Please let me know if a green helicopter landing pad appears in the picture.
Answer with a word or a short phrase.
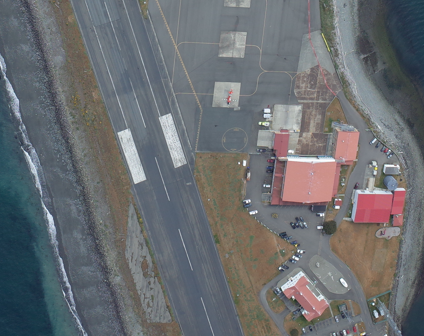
No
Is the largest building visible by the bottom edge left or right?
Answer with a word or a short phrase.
right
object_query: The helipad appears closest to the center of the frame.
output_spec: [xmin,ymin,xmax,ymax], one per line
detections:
[213,81,240,110]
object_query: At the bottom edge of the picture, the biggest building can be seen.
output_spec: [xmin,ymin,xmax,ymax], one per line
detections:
[282,272,329,321]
